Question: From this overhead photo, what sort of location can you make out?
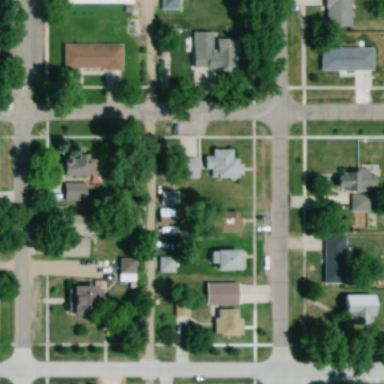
residential area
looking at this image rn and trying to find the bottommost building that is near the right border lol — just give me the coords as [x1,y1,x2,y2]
[347,294,380,324]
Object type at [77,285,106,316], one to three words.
house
